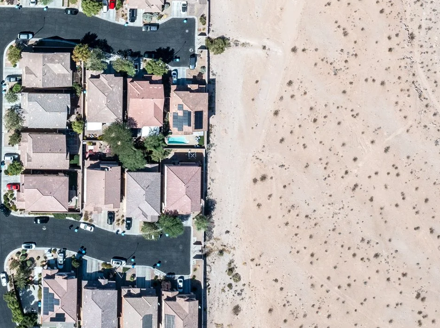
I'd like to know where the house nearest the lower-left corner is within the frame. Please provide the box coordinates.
[41,268,77,323]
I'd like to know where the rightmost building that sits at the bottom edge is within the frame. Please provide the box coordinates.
[159,289,199,328]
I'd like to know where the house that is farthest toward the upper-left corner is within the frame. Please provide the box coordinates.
[18,52,72,89]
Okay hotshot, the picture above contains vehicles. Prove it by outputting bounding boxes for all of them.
[0,271,7,287]
[125,216,132,231]
[6,75,20,82]
[171,69,177,84]
[142,25,158,32]
[64,8,80,15]
[109,0,115,10]
[130,9,136,24]
[0,203,11,218]
[22,241,36,248]
[110,257,126,266]
[188,55,196,71]
[57,252,64,269]
[6,183,20,190]
[181,1,188,15]
[108,210,115,226]
[34,216,49,224]
[30,0,36,7]
[2,155,18,161]
[101,0,108,14]
[176,278,183,293]
[80,222,94,231]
